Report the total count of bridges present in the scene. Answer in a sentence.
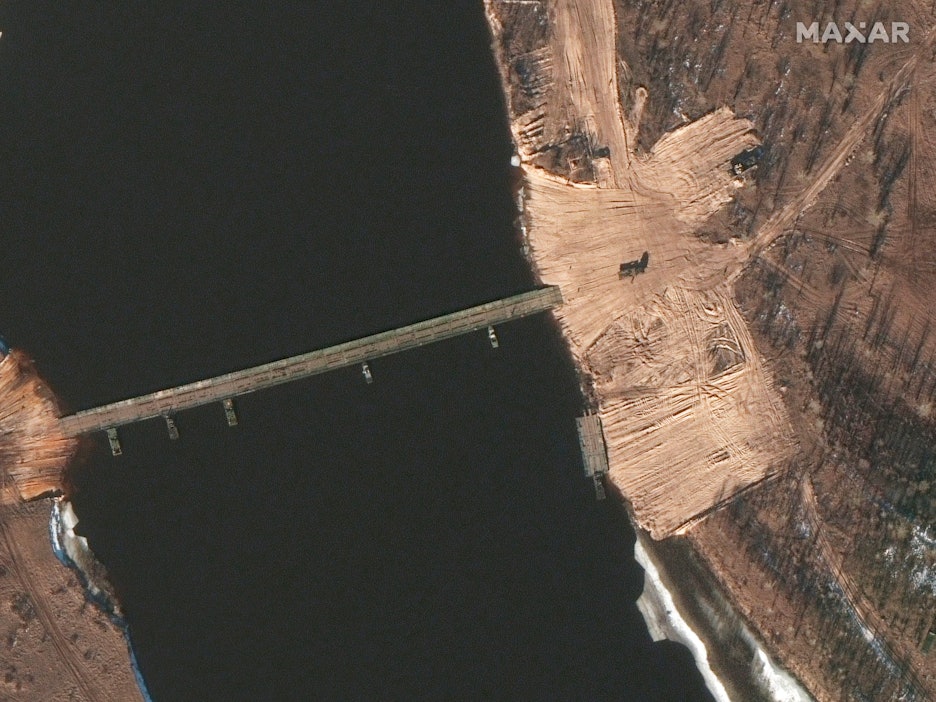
Altogether the scene contains 1 bridge.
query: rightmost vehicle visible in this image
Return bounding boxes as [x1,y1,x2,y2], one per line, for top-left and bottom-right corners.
[730,149,763,173]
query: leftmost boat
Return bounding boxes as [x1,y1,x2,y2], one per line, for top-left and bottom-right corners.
[106,428,121,456]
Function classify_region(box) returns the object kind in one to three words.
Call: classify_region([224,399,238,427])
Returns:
boat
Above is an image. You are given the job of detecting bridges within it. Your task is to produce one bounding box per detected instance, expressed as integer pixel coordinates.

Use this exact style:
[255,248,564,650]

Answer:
[56,284,569,437]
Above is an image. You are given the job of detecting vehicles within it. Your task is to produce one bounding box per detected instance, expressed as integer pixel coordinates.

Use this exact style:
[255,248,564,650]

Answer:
[730,149,763,173]
[596,152,610,158]
[617,265,645,282]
